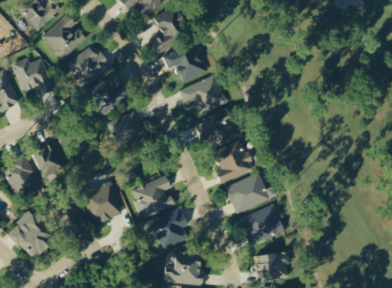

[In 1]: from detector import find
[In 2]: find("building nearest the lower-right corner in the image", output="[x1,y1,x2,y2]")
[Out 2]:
[256,249,290,282]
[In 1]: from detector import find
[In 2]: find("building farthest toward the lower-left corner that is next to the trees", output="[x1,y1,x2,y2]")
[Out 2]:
[8,212,50,256]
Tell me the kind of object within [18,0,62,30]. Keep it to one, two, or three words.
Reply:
house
